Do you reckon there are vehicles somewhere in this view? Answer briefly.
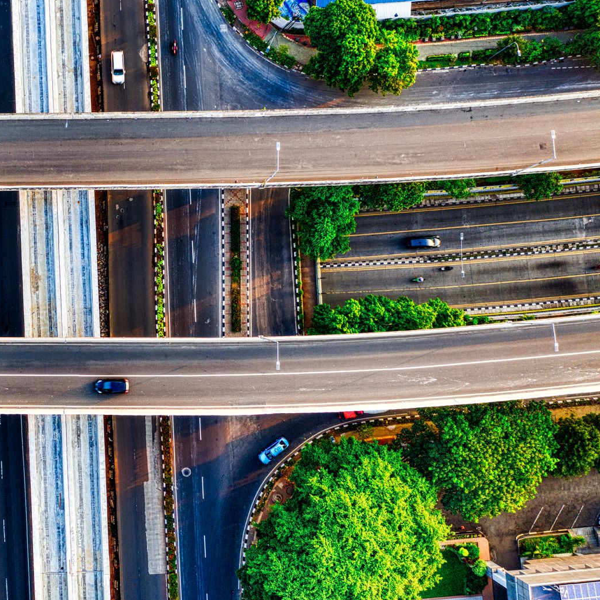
Yes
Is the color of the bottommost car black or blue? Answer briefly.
blue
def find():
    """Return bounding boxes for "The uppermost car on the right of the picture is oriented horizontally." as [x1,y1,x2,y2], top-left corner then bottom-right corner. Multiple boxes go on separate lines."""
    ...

[406,234,441,249]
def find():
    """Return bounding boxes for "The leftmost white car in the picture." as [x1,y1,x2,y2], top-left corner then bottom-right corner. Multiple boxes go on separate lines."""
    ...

[111,49,126,84]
